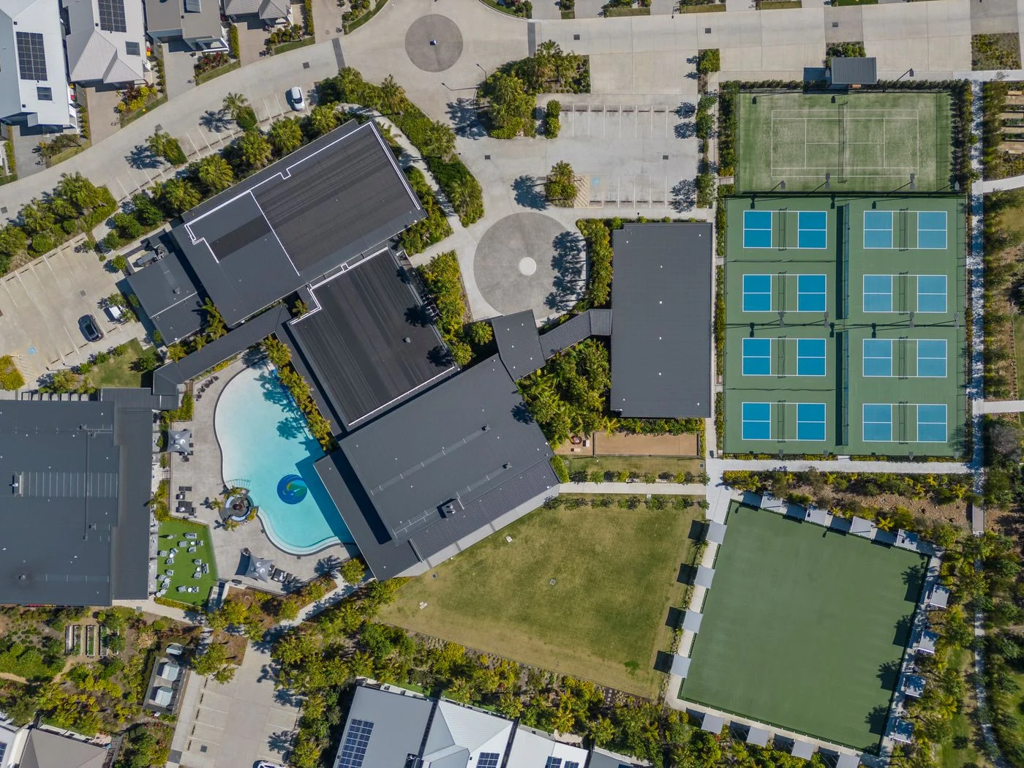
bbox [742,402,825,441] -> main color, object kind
blue sports court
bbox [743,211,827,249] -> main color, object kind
blue sports court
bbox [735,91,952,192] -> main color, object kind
green tennis court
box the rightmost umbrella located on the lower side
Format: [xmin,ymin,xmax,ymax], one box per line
[244,549,276,582]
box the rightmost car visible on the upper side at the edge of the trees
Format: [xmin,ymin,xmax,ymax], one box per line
[288,85,305,112]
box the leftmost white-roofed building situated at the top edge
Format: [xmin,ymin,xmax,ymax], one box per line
[0,0,78,128]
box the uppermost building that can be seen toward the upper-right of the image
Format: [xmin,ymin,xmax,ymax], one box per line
[825,57,877,90]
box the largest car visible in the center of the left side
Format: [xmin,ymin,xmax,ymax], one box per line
[77,312,102,343]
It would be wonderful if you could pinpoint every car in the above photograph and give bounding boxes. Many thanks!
[256,759,285,768]
[77,312,102,343]
[288,85,305,112]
